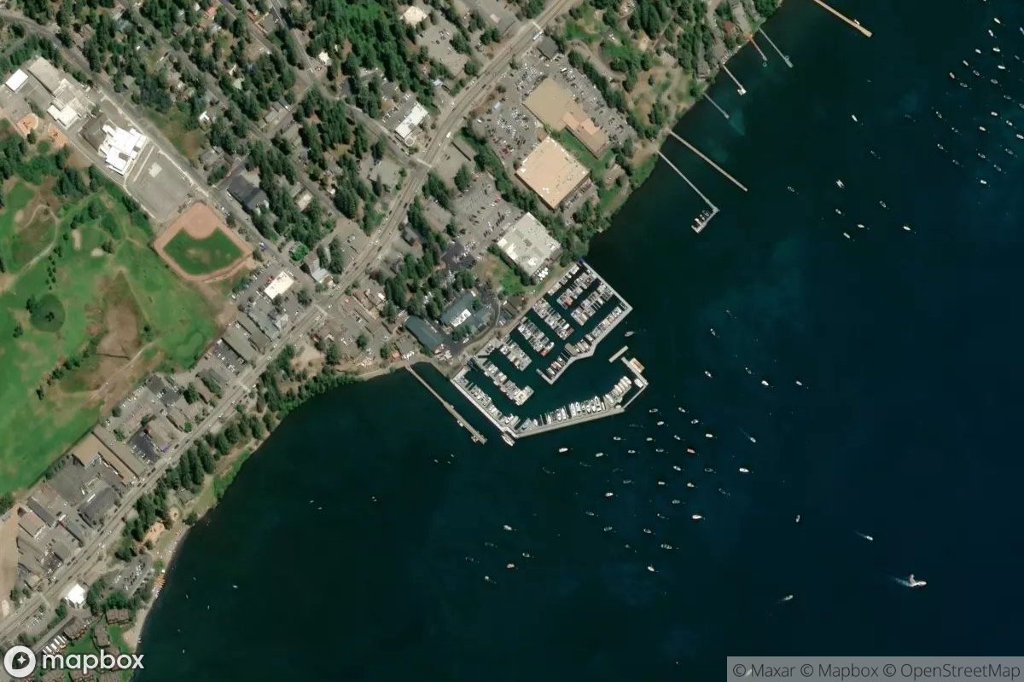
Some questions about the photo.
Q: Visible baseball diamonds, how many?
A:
1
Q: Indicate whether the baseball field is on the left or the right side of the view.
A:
left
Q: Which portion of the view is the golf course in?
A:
left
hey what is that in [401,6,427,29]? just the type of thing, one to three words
house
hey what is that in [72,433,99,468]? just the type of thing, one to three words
building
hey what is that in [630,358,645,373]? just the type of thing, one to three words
ship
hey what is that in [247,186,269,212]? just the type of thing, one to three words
building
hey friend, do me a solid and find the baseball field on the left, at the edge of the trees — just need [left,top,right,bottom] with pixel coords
[153,198,253,284]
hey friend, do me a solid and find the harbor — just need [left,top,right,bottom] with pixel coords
[450,260,648,440]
